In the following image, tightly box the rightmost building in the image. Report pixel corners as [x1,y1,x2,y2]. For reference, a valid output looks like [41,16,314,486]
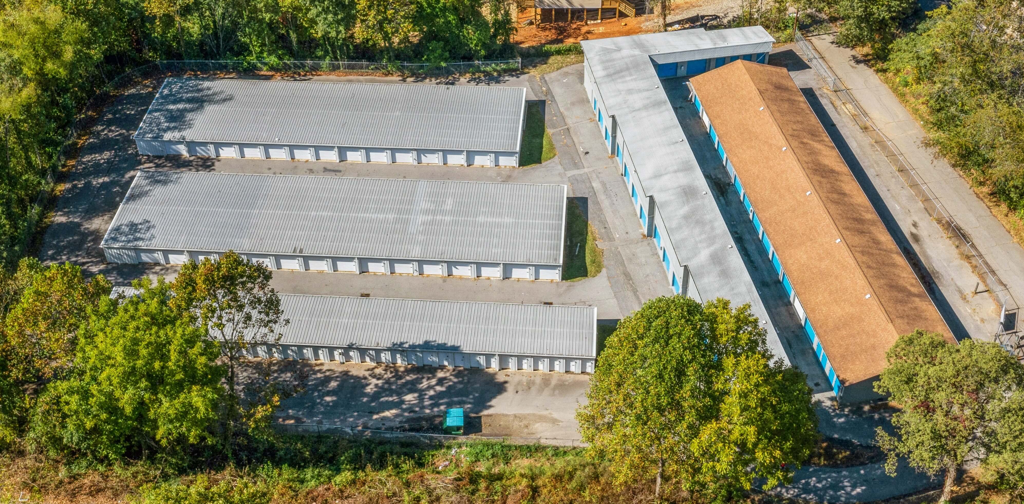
[684,59,961,406]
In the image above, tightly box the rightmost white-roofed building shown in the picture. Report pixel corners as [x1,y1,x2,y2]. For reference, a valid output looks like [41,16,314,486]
[580,26,785,352]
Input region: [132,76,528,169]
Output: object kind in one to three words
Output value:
building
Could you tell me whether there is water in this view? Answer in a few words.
No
